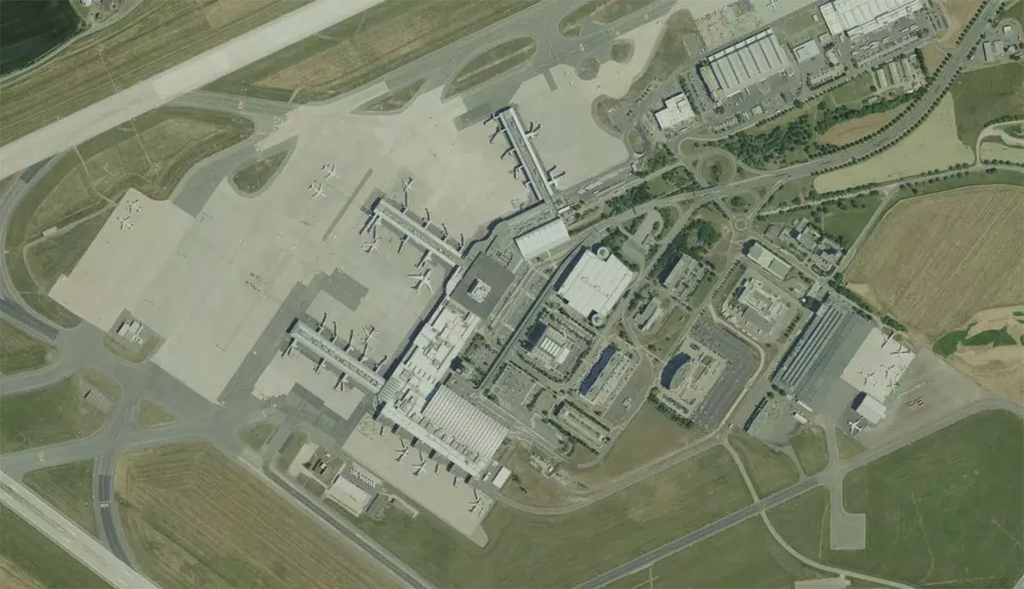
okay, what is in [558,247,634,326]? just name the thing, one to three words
building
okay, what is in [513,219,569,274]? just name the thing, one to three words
building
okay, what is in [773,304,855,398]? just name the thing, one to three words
hangar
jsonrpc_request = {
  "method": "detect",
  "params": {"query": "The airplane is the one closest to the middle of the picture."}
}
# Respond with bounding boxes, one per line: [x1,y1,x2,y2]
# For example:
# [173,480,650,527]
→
[412,270,431,291]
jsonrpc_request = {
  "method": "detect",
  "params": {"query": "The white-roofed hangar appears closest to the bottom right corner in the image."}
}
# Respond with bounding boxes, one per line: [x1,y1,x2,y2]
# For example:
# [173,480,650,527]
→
[857,394,887,424]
